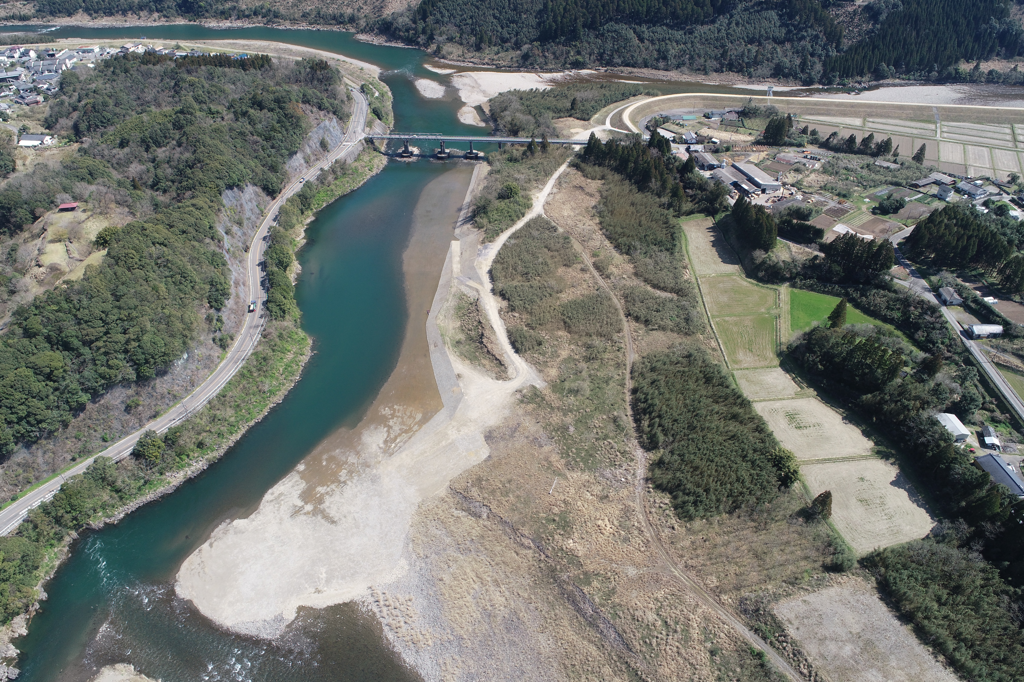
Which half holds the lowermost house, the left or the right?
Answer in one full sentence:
The lowermost house sits on the right side.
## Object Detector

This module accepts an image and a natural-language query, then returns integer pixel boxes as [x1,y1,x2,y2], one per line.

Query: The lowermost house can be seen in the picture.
[976,449,1024,496]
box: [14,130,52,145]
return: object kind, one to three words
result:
house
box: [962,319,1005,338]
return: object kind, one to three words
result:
building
